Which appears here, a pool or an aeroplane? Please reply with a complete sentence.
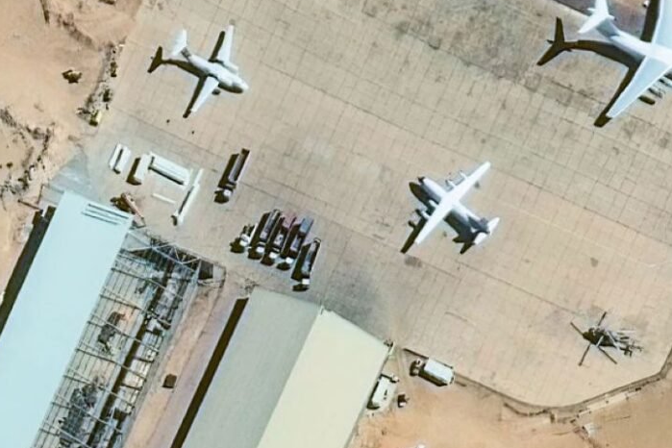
Of the two, only an aeroplane appears.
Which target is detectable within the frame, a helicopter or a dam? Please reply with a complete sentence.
Of the two, only a helicopter appears.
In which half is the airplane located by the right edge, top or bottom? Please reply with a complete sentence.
The top half of the photo is where the airplane located by the right edge is.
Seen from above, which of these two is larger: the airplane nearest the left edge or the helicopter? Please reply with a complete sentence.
Of the two, the airplane is bigger, while the helicopter is smaller.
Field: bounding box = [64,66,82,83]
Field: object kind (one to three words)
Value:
vehicle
